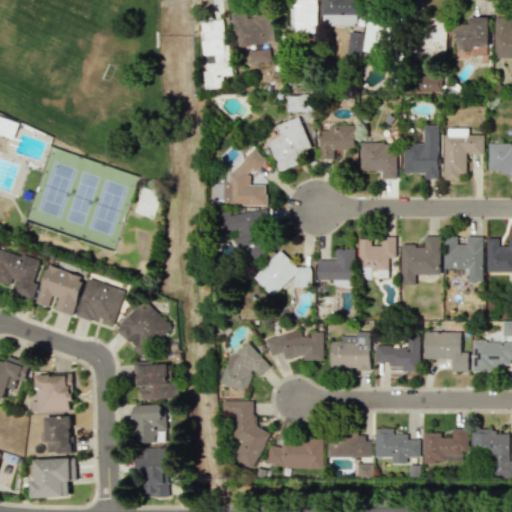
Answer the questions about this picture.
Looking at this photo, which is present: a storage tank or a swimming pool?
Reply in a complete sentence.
Visible in the photo is a swimming pool.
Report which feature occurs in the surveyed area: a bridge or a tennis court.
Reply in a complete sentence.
The image shows a tennis court.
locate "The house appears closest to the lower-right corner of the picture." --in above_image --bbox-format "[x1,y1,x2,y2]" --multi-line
[473,430,512,478]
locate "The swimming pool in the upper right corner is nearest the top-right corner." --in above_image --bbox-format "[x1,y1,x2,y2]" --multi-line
[458,63,476,81]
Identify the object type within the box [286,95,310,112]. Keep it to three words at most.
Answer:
shed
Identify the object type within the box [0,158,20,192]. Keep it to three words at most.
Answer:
swimming pool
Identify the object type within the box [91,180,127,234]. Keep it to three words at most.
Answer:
tennis court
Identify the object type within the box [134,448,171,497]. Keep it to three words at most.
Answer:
house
